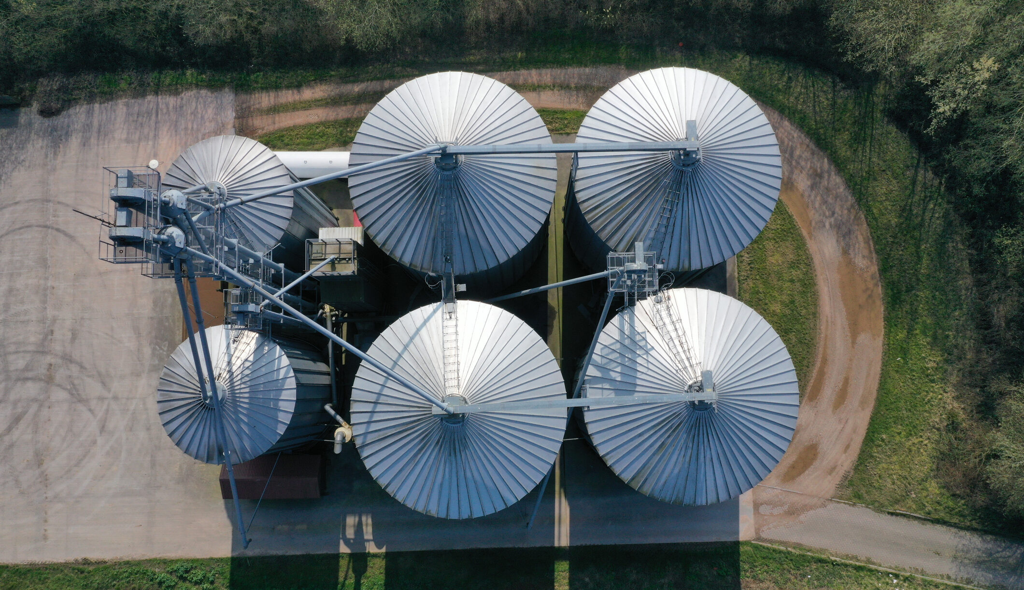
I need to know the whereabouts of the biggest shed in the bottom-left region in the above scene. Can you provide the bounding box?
[216,448,329,499]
